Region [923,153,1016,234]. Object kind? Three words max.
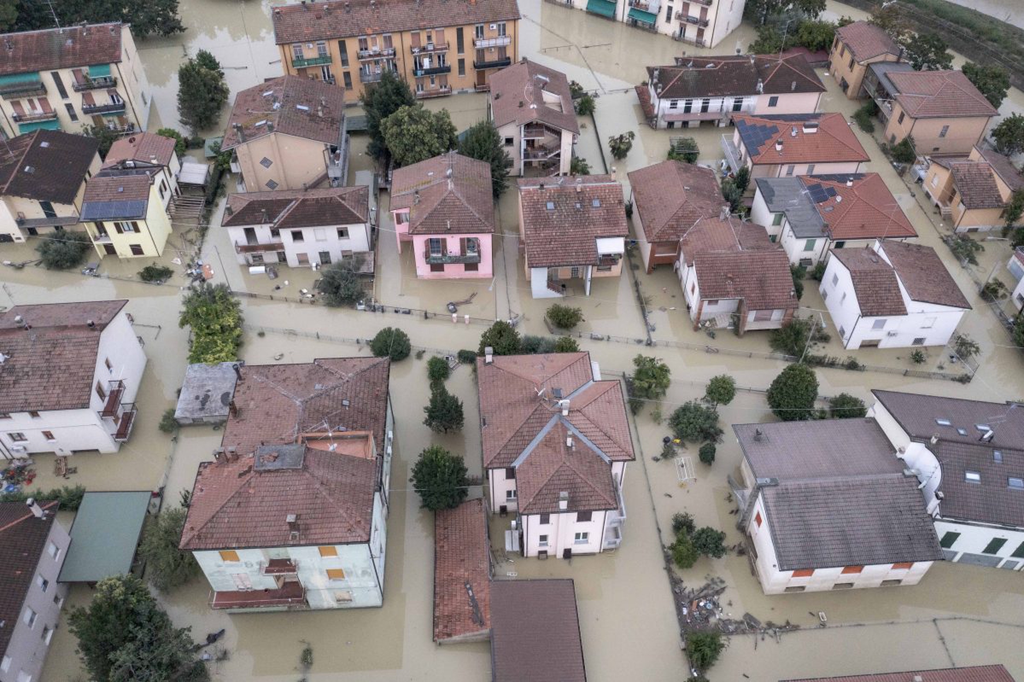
house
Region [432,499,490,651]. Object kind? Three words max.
shed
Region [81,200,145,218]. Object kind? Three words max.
solar panel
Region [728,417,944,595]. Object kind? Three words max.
barn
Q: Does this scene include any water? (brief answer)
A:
Yes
